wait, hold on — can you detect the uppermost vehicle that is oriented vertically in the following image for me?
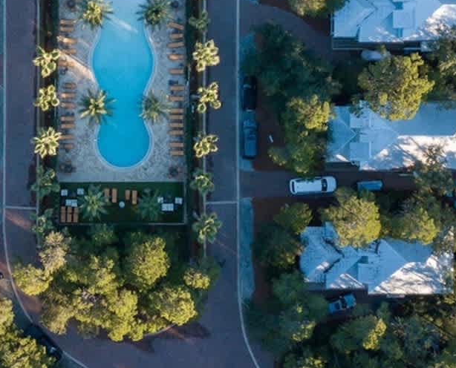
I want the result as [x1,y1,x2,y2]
[241,72,260,113]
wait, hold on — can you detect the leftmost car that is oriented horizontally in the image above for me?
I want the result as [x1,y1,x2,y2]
[290,176,336,196]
